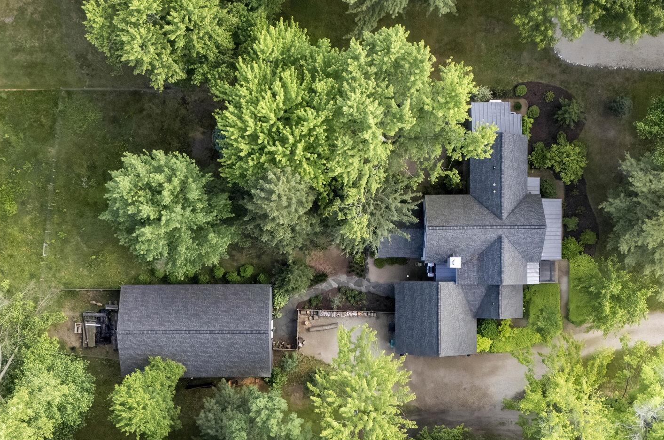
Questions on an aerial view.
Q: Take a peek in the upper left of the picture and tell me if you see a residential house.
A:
No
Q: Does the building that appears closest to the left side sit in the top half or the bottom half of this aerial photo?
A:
bottom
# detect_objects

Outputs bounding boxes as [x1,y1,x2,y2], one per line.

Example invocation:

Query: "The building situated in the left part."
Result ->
[117,284,273,378]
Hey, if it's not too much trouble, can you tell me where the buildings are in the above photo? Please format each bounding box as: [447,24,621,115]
[117,284,273,378]
[378,102,562,358]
